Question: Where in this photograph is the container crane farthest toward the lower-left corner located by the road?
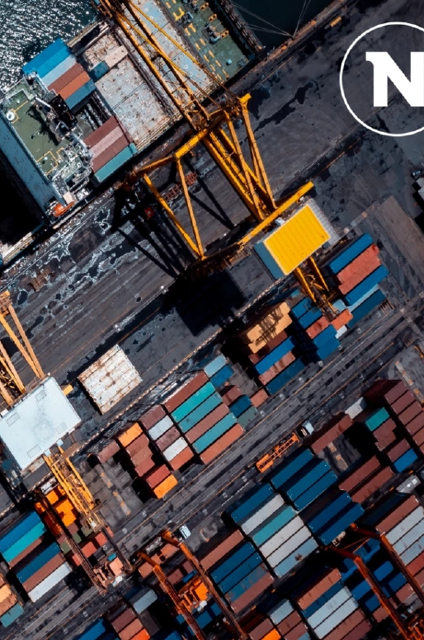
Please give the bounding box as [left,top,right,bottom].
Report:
[29,467,134,595]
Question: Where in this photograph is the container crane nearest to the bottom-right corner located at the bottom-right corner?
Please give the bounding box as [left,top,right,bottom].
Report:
[325,526,424,640]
